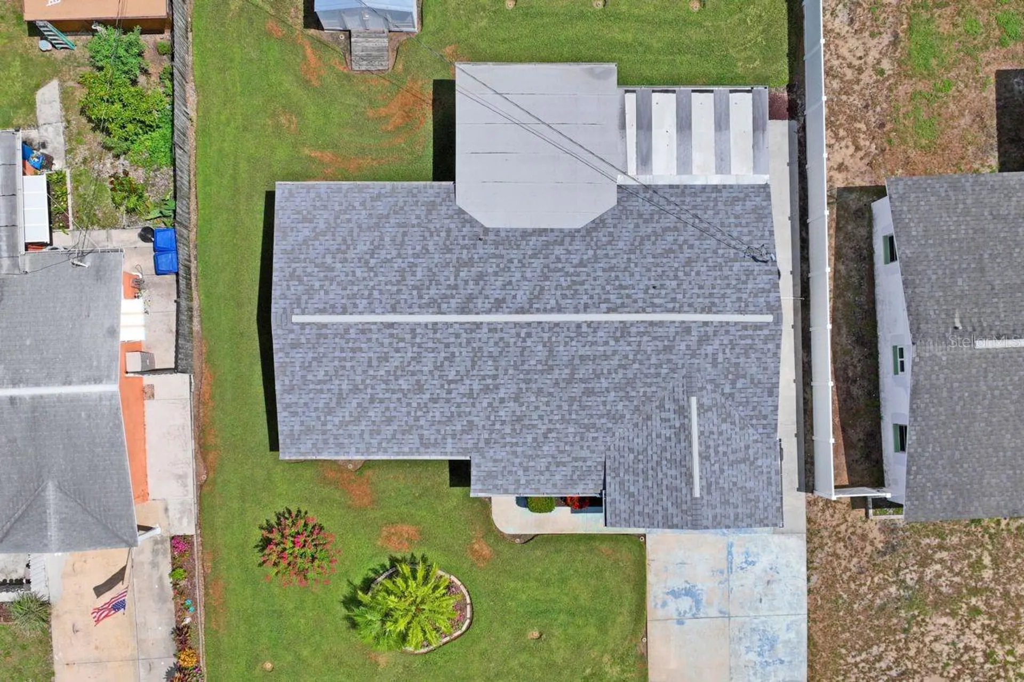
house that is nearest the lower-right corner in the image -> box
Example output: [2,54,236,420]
[872,174,1024,521]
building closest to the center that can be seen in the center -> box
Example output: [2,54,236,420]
[271,60,803,530]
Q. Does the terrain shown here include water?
No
